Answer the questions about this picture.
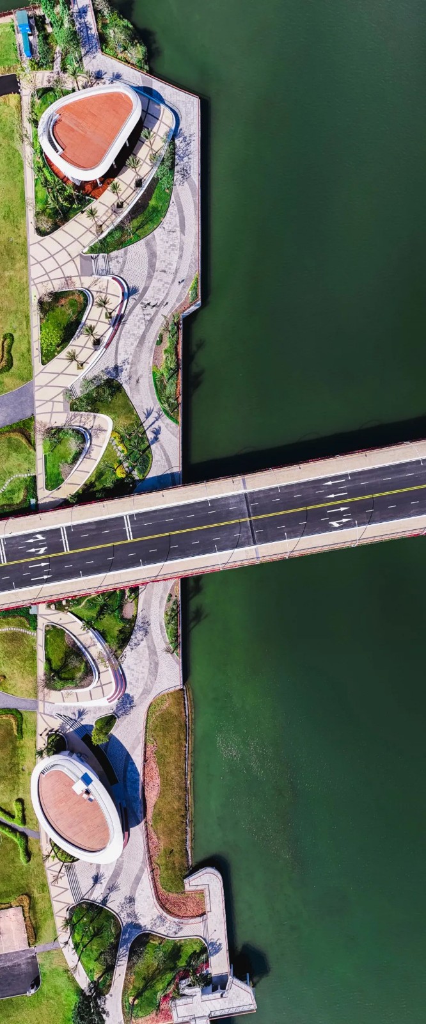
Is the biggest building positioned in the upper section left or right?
left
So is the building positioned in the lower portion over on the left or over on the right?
left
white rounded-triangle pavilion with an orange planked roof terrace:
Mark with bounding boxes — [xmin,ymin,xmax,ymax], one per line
[38,85,144,199]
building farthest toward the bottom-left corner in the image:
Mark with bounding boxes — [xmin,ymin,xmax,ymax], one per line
[31,750,123,863]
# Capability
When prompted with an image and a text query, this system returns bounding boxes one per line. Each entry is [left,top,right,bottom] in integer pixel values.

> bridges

[0,438,426,611]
